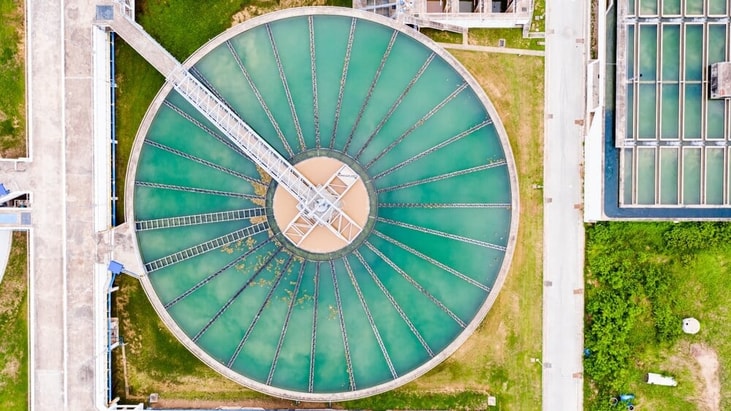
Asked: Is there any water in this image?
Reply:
Yes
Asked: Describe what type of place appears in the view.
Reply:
industrial area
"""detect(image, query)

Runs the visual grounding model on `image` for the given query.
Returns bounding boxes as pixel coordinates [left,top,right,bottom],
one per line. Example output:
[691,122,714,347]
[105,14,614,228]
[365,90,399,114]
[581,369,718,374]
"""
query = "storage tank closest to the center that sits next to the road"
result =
[125,7,520,402]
